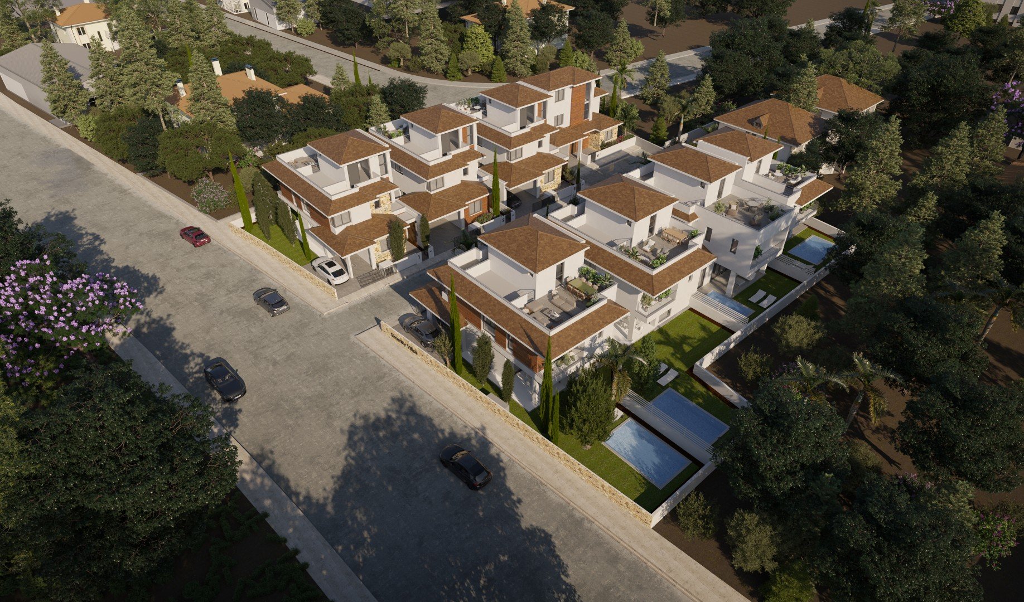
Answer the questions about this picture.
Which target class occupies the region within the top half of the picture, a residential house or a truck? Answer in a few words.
residential house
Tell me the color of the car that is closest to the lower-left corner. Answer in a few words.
black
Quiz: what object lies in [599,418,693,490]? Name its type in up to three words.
swimming pool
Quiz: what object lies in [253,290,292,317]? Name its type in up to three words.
car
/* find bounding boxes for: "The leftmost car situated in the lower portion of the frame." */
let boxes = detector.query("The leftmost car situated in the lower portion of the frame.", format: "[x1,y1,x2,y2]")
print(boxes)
[201,358,248,397]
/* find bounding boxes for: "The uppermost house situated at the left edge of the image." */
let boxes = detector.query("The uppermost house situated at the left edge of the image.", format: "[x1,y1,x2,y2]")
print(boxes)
[46,0,119,54]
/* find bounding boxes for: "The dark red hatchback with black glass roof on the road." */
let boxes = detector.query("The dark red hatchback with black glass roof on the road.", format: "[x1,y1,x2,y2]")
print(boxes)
[180,226,211,247]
